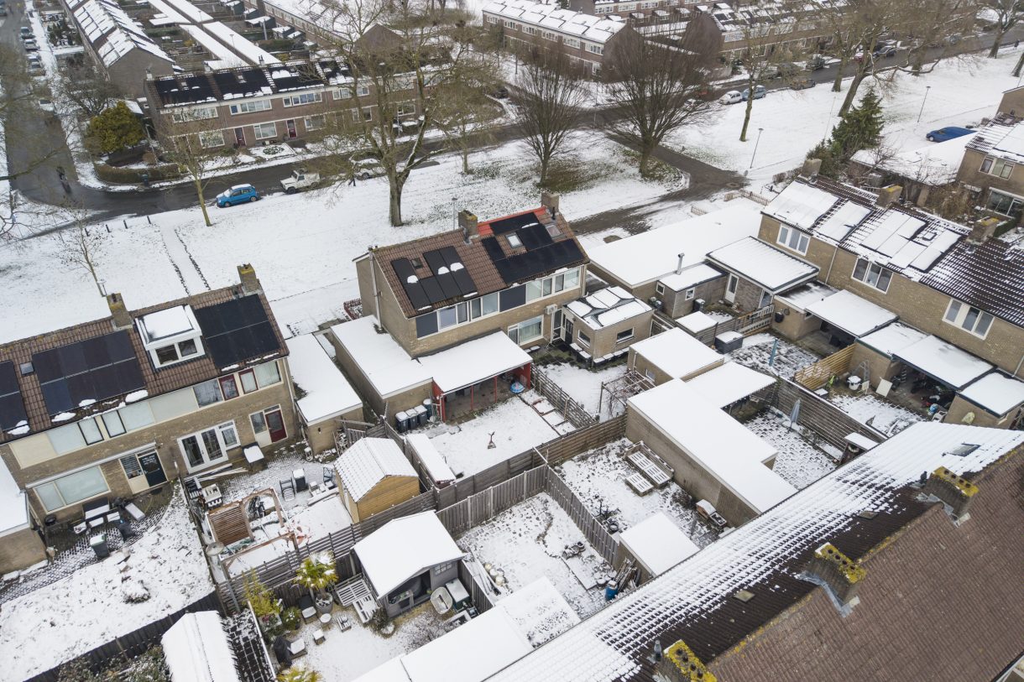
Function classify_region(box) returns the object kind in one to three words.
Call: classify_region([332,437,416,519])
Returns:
shed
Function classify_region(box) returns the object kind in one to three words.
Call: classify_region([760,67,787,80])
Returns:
vehicle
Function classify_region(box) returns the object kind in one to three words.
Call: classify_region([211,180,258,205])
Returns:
car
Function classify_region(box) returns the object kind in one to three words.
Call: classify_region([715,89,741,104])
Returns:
car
